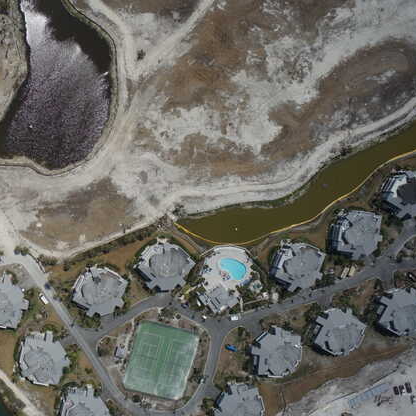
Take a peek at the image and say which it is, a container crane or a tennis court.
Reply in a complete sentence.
The image shows a tennis court.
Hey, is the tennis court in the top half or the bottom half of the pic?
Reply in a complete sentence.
The tennis court is in the bottom half of the image.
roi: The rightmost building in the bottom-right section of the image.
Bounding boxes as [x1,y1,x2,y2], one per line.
[374,283,416,335]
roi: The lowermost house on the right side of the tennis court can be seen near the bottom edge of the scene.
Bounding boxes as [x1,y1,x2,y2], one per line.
[217,381,267,416]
